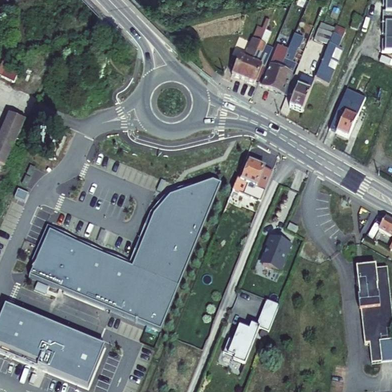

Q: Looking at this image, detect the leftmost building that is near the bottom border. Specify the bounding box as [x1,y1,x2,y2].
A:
[0,301,108,390]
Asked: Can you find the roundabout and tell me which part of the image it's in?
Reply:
top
